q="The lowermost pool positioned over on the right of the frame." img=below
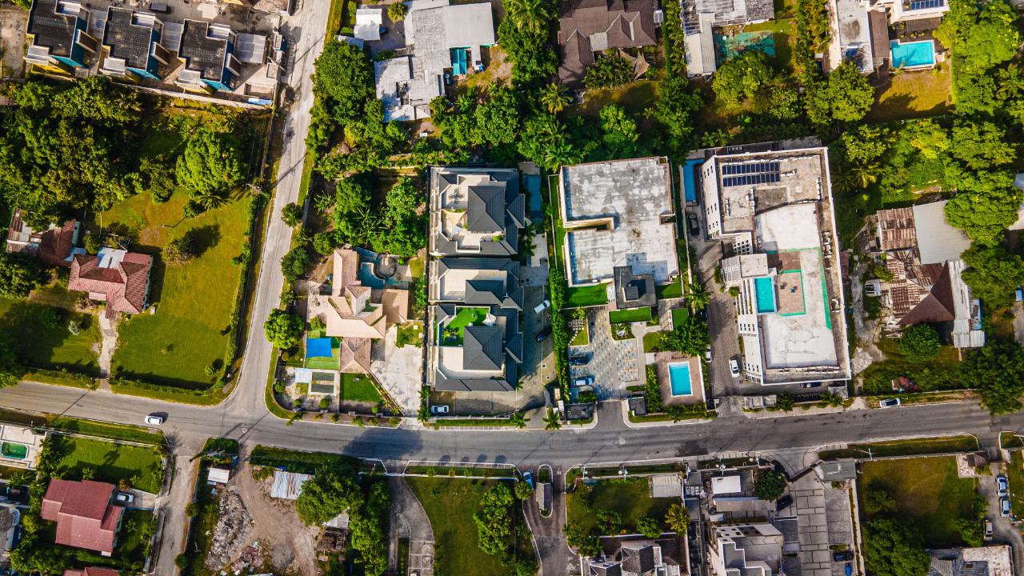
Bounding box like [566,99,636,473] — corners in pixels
[668,361,693,397]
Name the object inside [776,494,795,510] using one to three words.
vehicle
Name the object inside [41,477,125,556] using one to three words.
house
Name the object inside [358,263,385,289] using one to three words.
swimming pool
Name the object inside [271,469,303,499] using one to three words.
shed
